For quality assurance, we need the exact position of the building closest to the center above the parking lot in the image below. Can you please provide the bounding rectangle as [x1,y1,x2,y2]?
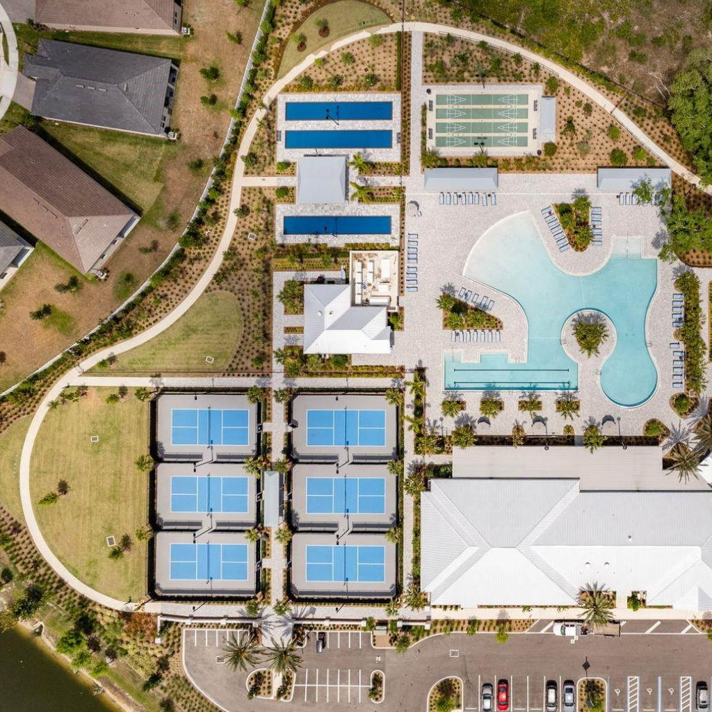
[304,284,391,353]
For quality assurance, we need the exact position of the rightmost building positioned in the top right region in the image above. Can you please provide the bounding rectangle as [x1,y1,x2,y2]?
[598,168,670,191]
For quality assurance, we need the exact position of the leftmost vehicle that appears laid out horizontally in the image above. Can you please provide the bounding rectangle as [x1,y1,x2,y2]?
[552,622,587,637]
